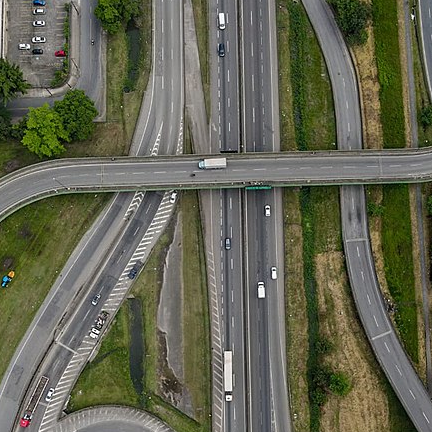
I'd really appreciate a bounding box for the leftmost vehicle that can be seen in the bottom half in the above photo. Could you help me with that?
[2,269,17,287]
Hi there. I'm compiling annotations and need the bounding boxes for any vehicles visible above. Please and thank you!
[91,294,102,305]
[225,237,230,250]
[169,190,179,204]
[2,269,17,287]
[18,44,31,50]
[266,204,271,218]
[86,309,111,338]
[219,43,225,58]
[33,8,47,15]
[55,51,67,57]
[33,0,47,6]
[32,20,47,27]
[271,267,277,280]
[219,11,225,30]
[31,48,45,55]
[46,387,55,402]
[258,282,264,298]
[20,374,51,424]
[223,351,233,400]
[32,36,47,43]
